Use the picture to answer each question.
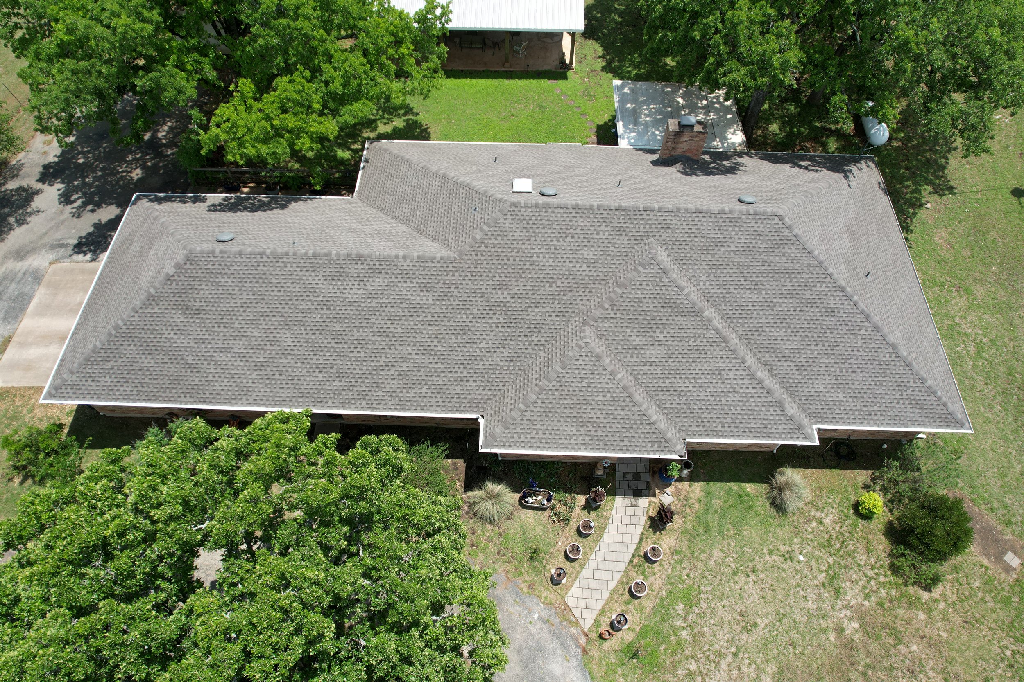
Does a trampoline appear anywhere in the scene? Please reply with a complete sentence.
No, there appears to be no trampoline in this shot.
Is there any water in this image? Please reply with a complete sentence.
No, there is no water in the image.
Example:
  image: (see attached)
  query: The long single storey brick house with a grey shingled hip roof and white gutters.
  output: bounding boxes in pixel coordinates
[41,114,974,464]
